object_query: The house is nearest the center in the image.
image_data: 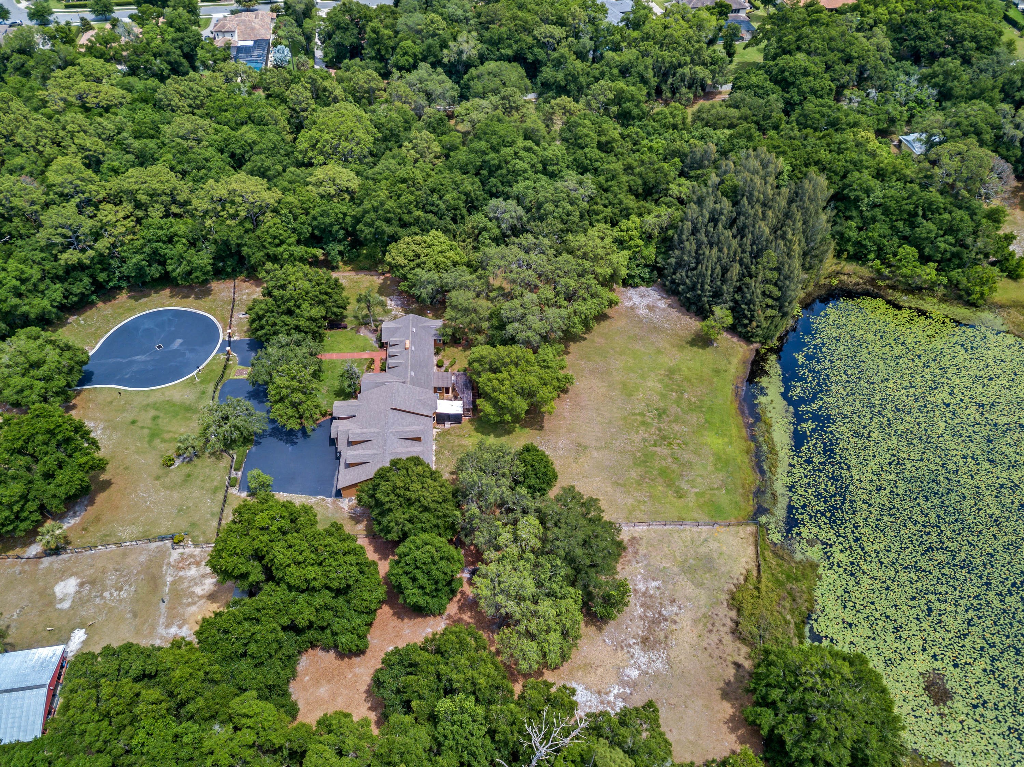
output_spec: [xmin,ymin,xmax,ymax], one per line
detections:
[331,314,473,497]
